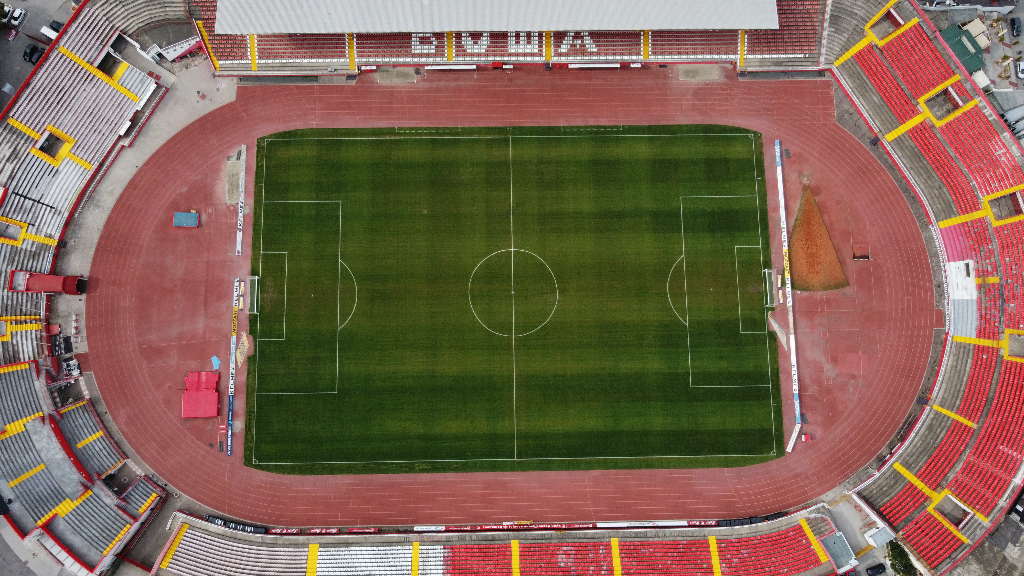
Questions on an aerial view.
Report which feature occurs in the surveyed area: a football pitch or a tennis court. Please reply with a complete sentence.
The image shows a football pitch.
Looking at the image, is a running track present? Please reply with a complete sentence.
Yes, a running track appears in the view.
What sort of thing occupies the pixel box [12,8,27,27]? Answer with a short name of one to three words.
car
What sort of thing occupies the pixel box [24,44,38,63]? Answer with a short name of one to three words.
car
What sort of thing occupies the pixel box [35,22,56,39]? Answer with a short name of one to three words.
vehicle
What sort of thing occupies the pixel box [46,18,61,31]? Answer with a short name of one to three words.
vehicle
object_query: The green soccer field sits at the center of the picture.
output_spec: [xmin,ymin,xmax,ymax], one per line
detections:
[244,124,784,475]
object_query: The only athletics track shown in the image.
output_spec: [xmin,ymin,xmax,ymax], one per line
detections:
[73,65,941,526]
